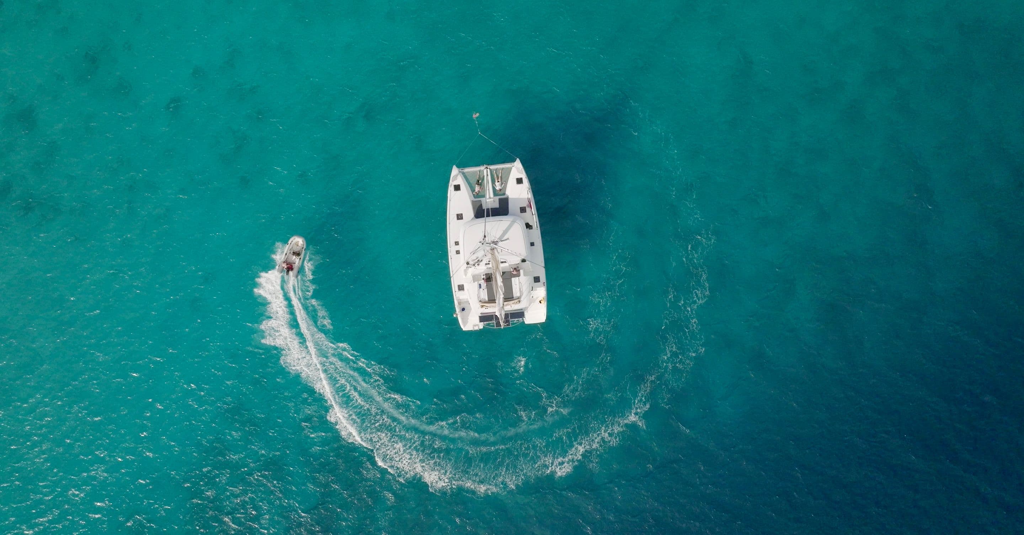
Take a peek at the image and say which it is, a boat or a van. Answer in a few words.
boat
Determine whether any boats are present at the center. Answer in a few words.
Yes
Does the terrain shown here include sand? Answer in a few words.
No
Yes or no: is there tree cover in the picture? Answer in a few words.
No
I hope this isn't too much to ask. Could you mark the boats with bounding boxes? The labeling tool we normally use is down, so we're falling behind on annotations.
[278,234,307,276]
[447,159,547,331]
